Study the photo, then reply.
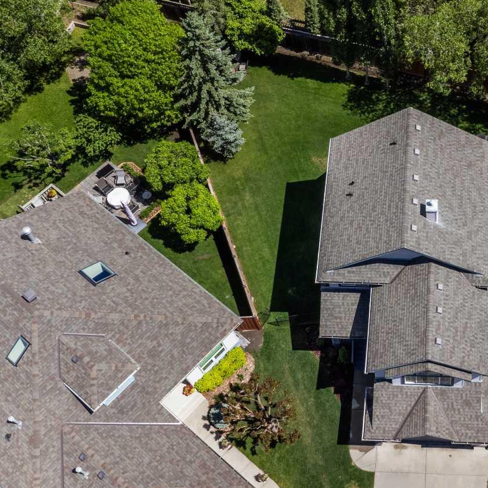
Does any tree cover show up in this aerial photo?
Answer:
Yes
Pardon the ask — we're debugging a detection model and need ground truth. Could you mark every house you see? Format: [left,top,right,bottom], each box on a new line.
[313,108,488,448]
[0,191,255,488]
